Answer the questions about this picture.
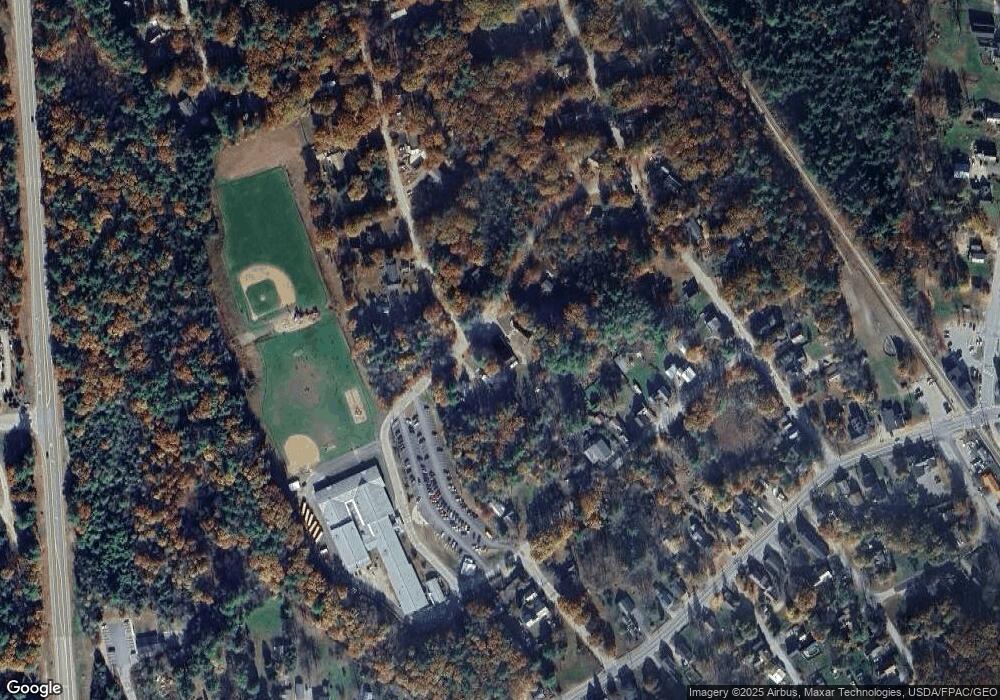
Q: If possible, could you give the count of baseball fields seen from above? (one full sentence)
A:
I count 2 baseball fields.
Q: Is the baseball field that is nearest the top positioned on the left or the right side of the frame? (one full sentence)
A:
It is on the left.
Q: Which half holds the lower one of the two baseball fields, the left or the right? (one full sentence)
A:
The lower one of the two baseball fields sits on the left side.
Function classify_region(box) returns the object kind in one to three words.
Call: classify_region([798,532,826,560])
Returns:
house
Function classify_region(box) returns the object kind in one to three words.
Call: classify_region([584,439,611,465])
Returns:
house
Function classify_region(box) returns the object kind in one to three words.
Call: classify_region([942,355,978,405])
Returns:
building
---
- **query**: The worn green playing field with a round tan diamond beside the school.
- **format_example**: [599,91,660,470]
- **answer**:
[258,316,379,472]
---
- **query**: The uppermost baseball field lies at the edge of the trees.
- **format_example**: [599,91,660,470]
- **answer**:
[217,167,329,334]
